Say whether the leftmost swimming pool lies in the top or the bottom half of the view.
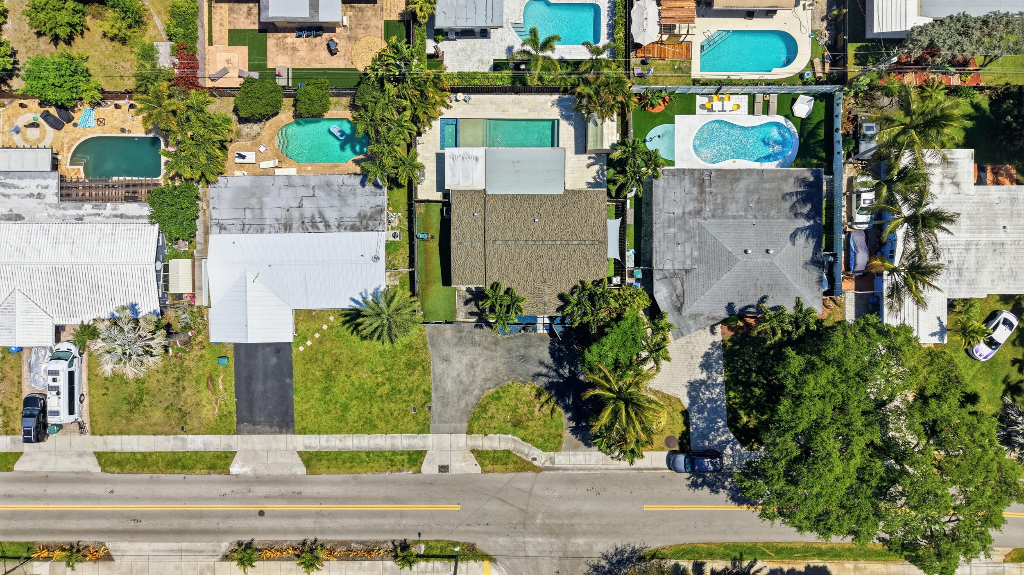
top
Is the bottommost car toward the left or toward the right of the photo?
right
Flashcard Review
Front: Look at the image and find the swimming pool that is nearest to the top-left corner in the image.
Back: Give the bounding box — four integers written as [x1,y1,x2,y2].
[67,134,164,183]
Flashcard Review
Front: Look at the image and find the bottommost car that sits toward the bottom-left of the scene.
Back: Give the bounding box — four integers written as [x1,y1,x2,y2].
[19,392,50,445]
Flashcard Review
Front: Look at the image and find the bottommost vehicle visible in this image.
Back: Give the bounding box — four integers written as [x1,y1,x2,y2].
[666,450,720,476]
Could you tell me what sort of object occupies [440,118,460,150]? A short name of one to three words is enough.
swimming pool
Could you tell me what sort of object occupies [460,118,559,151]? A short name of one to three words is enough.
swimming pool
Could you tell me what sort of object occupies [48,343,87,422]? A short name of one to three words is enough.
van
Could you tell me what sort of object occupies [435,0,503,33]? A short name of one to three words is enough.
house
